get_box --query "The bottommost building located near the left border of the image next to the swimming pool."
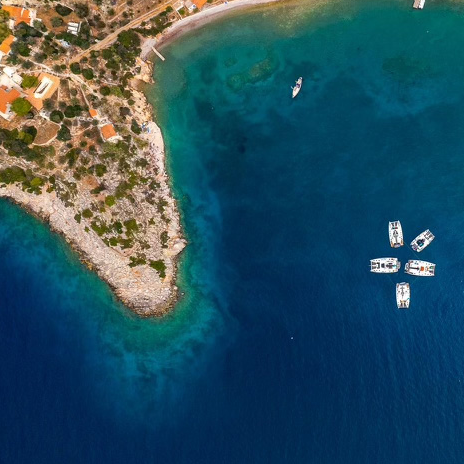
[0,85,26,119]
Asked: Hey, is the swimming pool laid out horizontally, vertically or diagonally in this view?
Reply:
diagonally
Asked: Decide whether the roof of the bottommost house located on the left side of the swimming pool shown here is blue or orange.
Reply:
orange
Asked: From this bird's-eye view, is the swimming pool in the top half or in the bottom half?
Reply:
top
